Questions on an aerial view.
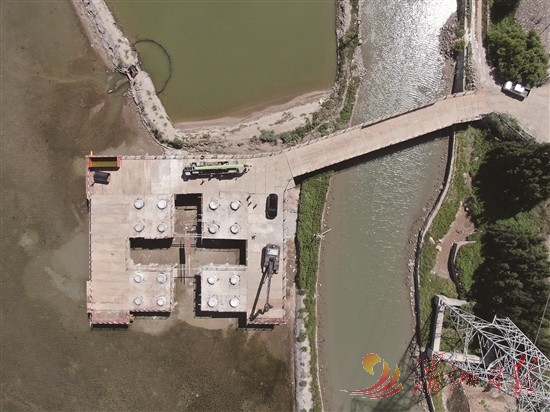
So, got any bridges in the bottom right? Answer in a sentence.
No, there is no bridge in the bottom right.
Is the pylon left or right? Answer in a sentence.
The pylon is on the right side of the image.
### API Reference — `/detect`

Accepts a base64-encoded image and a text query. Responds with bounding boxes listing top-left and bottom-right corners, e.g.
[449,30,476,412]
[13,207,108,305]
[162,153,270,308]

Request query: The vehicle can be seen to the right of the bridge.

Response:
[504,82,535,100]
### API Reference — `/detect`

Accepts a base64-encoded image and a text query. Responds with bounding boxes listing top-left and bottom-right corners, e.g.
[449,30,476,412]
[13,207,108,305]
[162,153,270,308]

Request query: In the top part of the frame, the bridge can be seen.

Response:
[284,90,488,178]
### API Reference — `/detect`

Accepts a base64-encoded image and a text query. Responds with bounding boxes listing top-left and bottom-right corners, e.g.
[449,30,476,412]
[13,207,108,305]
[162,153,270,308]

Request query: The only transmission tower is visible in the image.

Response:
[425,298,550,412]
